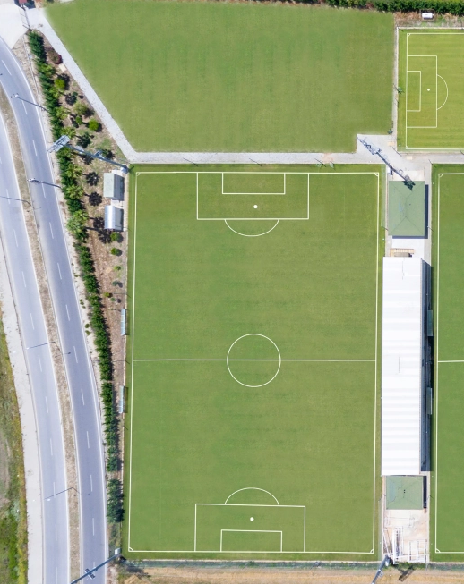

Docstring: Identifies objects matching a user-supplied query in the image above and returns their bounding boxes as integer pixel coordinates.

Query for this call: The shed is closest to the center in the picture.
[105,206,124,231]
